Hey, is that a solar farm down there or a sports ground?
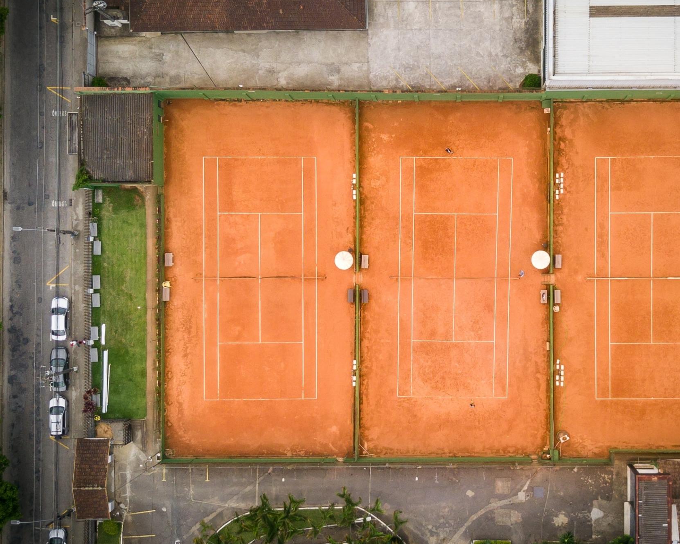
sports ground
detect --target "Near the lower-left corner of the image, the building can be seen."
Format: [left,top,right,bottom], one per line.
[72,438,117,520]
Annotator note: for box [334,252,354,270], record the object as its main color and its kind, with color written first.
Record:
white umbrella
